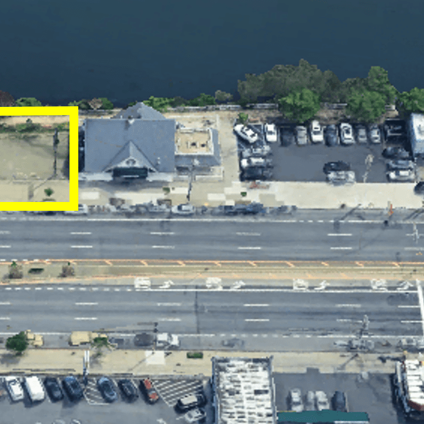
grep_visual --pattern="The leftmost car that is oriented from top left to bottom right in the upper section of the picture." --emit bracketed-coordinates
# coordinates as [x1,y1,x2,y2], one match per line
[233,125,257,144]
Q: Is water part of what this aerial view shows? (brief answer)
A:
Yes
